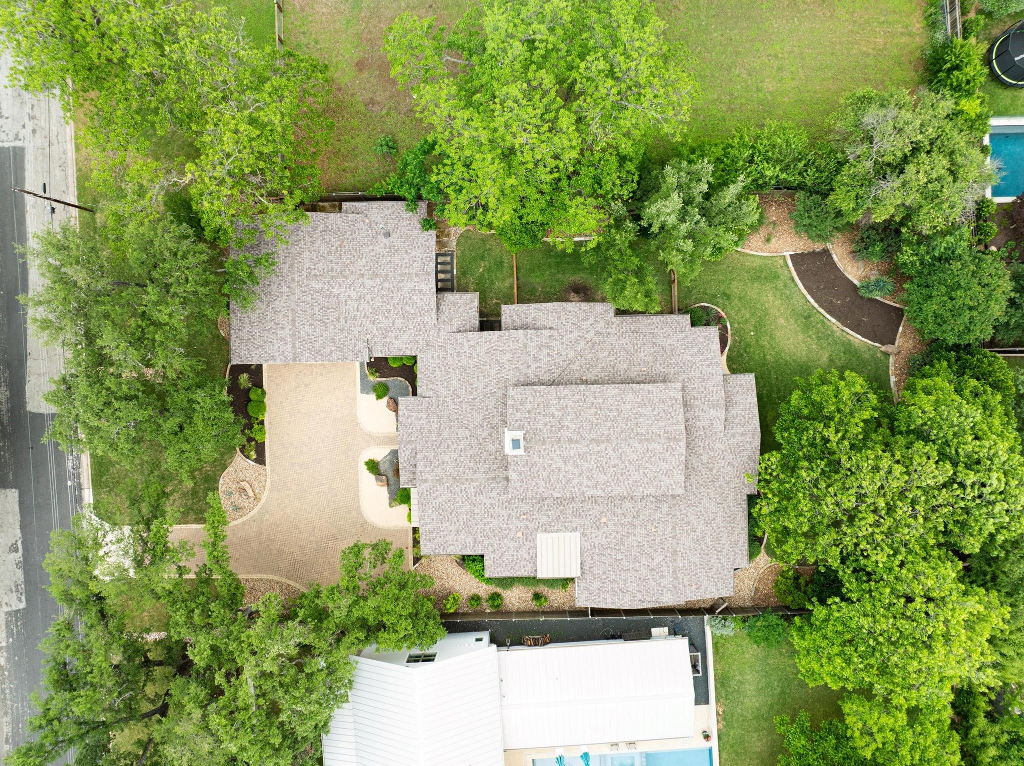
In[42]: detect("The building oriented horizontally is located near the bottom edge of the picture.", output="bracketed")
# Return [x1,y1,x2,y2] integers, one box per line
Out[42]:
[323,632,695,766]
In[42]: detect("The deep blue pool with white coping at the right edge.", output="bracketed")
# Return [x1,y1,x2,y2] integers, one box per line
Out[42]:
[983,118,1024,203]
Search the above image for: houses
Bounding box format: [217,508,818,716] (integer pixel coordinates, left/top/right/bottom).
[323,632,695,766]
[228,201,760,609]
